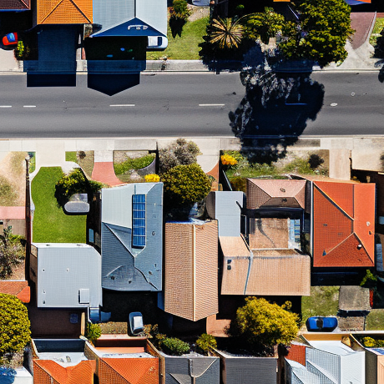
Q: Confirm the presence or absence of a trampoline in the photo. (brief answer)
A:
No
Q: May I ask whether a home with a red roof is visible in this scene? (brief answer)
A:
Yes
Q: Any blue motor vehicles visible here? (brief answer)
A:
Yes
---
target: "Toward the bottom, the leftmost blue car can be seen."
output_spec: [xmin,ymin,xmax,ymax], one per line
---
[95,300,113,326]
